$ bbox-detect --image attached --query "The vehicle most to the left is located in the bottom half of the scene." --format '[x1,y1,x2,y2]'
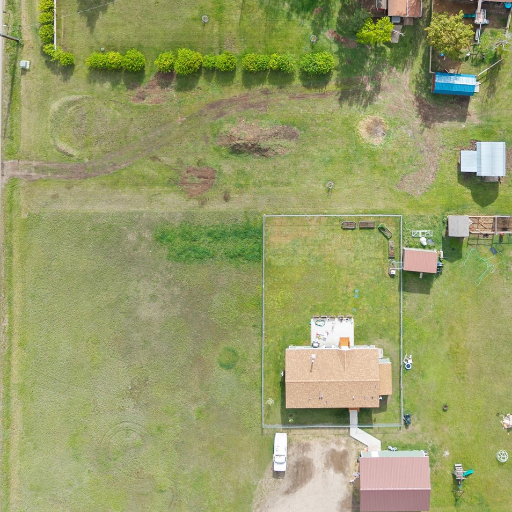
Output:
[272,430,288,471]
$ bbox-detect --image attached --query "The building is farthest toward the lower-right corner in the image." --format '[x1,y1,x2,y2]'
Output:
[359,449,431,512]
